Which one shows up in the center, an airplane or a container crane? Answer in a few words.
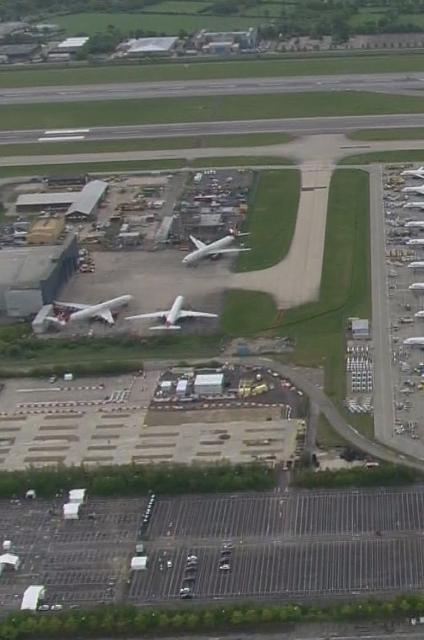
airplane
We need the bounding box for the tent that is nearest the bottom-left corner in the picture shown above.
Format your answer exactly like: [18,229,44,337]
[17,581,43,605]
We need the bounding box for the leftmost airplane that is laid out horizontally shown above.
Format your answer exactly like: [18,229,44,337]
[53,296,132,325]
